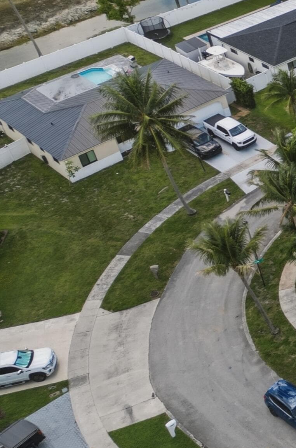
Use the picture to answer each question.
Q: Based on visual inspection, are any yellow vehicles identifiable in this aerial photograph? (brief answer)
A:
No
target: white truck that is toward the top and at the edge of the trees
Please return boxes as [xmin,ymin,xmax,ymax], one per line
[202,116,257,150]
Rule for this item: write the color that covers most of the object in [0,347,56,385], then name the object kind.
white truck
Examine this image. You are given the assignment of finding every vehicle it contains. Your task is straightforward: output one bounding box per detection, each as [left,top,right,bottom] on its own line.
[202,116,257,150]
[0,347,56,385]
[174,124,220,157]
[258,378,296,433]
[0,413,56,448]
